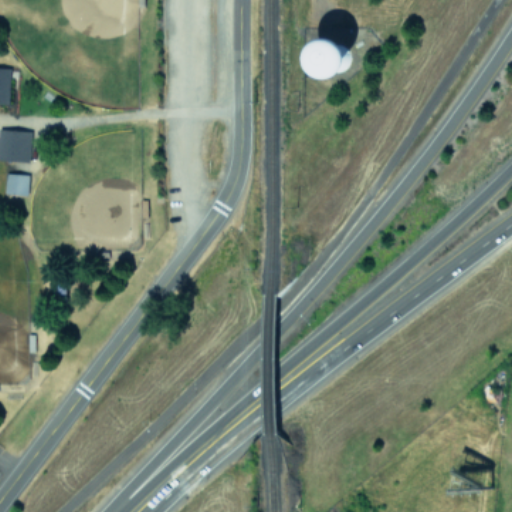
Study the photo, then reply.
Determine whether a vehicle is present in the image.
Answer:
Yes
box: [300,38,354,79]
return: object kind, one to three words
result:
water tower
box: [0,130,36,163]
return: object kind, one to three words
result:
house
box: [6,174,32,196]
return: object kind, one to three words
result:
shed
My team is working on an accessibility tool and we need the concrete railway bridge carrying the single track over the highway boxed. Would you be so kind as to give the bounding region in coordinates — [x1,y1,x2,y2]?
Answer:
[248,276,302,445]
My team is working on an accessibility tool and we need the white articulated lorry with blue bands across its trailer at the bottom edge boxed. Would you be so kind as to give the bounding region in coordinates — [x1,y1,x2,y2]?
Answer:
[144,480,179,508]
